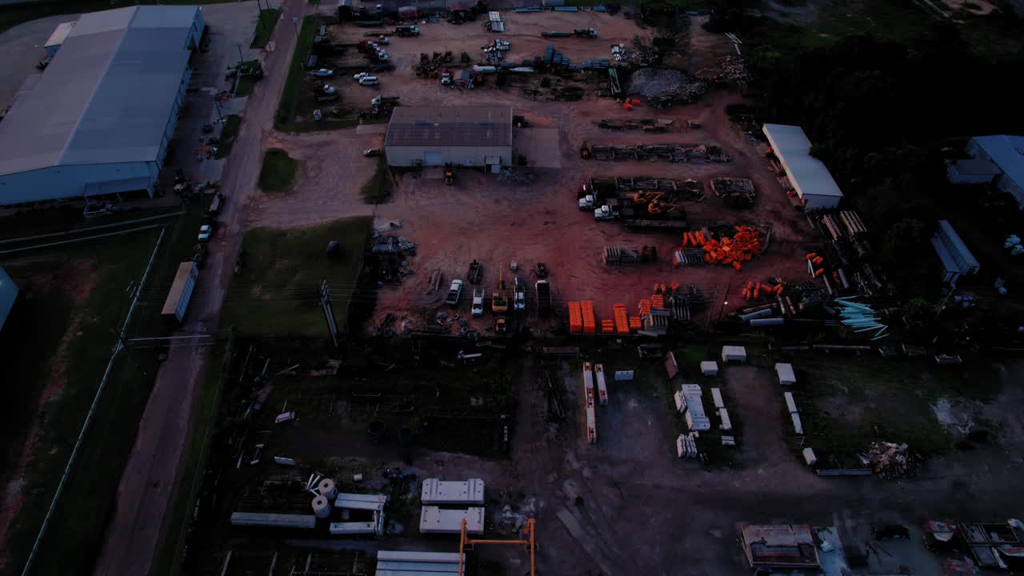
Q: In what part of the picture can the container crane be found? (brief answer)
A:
bottom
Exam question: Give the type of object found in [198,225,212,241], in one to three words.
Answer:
vehicle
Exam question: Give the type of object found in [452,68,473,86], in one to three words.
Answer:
shed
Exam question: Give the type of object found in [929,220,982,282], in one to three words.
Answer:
trailer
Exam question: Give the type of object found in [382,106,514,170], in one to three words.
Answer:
building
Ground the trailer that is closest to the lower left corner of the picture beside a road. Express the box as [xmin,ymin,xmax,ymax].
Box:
[158,259,199,329]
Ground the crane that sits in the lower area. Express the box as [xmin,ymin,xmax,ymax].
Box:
[458,515,536,576]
